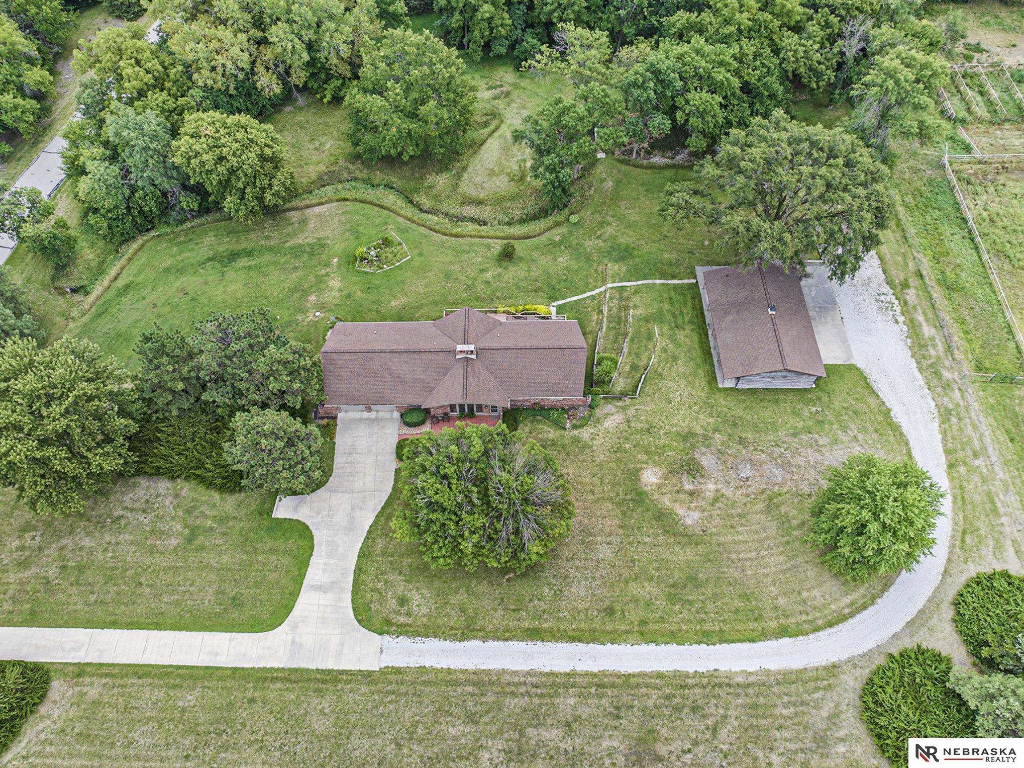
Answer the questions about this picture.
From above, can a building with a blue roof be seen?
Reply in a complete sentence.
No, I find no building with a blue roof anywhere in the image.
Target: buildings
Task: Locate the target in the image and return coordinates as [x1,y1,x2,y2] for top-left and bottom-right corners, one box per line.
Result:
[322,306,592,417]
[704,260,831,389]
